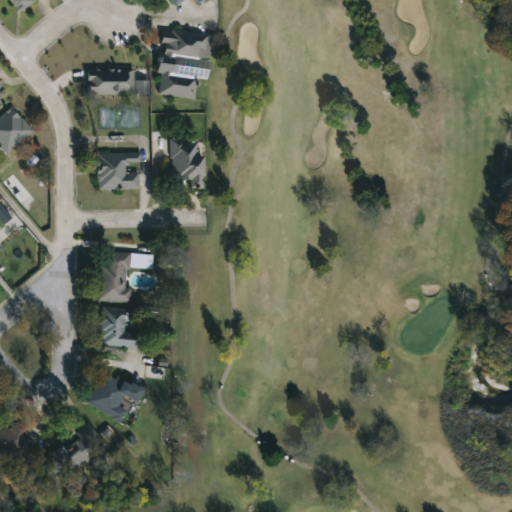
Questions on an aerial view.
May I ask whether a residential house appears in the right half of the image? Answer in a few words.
No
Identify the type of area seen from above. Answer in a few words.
golf course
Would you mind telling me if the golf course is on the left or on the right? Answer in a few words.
right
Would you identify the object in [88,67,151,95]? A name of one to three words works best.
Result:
house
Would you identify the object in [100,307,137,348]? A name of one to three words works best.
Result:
house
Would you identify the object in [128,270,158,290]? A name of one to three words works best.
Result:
swimming pool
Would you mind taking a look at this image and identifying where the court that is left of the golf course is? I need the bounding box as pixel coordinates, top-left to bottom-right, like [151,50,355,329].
[99,107,140,129]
